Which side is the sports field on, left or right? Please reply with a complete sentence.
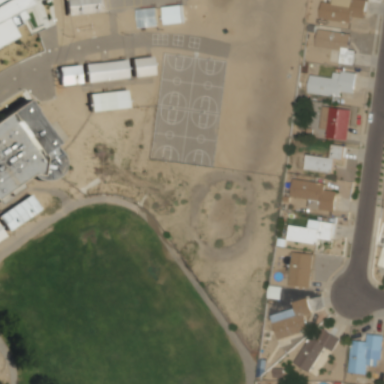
The sports field appears in the left half of the scene.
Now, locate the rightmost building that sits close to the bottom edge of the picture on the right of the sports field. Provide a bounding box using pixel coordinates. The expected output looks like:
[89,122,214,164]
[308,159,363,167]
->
[348,335,384,376]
